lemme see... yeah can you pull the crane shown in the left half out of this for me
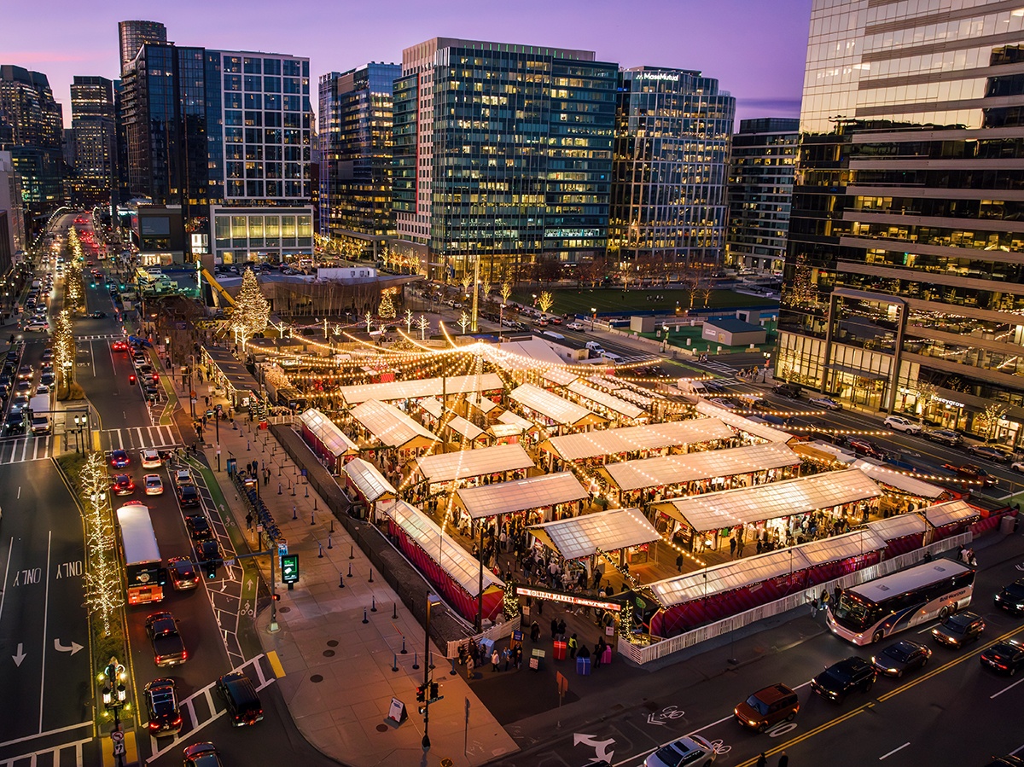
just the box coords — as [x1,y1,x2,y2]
[188,269,229,314]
